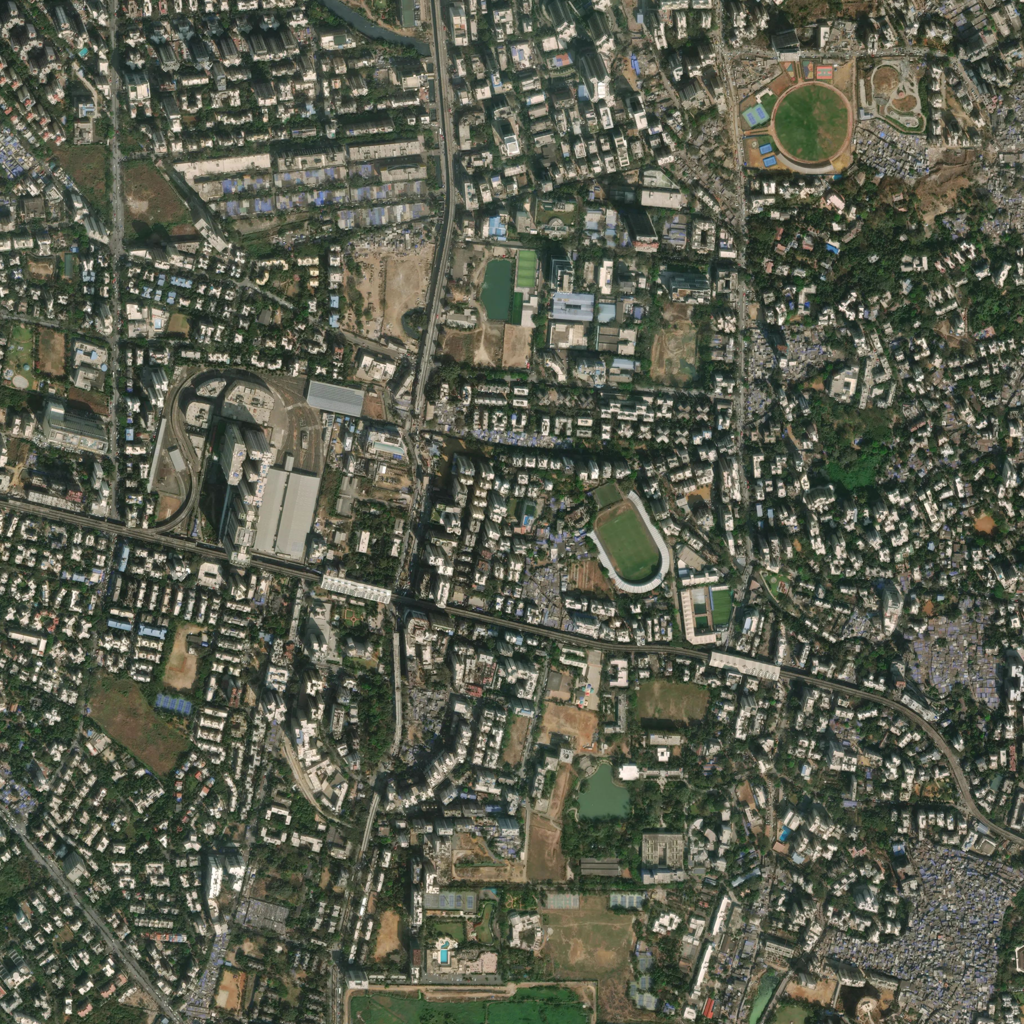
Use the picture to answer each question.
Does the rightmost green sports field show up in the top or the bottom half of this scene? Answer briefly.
top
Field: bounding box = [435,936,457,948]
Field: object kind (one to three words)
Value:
swimming pool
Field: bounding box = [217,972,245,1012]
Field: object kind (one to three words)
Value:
sports field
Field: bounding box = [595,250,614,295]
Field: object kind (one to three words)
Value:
building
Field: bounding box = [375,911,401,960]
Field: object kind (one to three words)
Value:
sports field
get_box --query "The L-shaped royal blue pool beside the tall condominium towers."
[777,821,793,843]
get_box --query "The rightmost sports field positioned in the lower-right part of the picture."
[785,976,837,1009]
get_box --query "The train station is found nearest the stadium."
[709,651,780,678]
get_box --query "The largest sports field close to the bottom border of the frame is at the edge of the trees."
[541,910,634,983]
